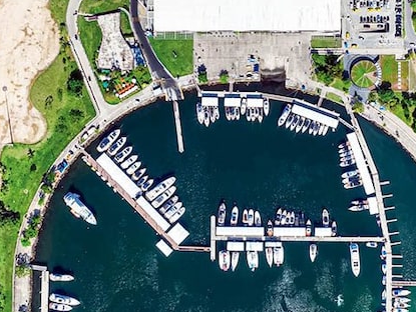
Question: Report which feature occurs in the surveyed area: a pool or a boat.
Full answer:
This aerial view contains a boat.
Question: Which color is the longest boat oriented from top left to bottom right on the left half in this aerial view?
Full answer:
The longest boat oriented from top left to bottom right on the left half is white.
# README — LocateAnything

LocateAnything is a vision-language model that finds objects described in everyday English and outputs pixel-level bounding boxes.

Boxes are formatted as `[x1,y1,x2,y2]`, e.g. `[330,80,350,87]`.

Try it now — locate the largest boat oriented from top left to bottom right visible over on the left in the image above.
[61,192,96,224]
